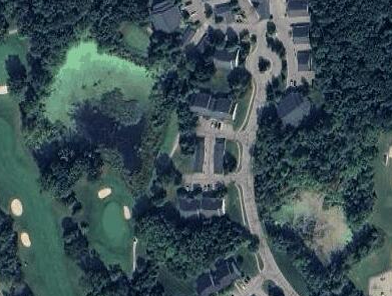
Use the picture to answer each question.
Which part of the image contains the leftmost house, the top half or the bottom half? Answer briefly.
top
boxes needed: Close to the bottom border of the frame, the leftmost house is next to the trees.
[195,255,243,295]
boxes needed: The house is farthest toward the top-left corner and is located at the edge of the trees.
[151,0,182,32]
